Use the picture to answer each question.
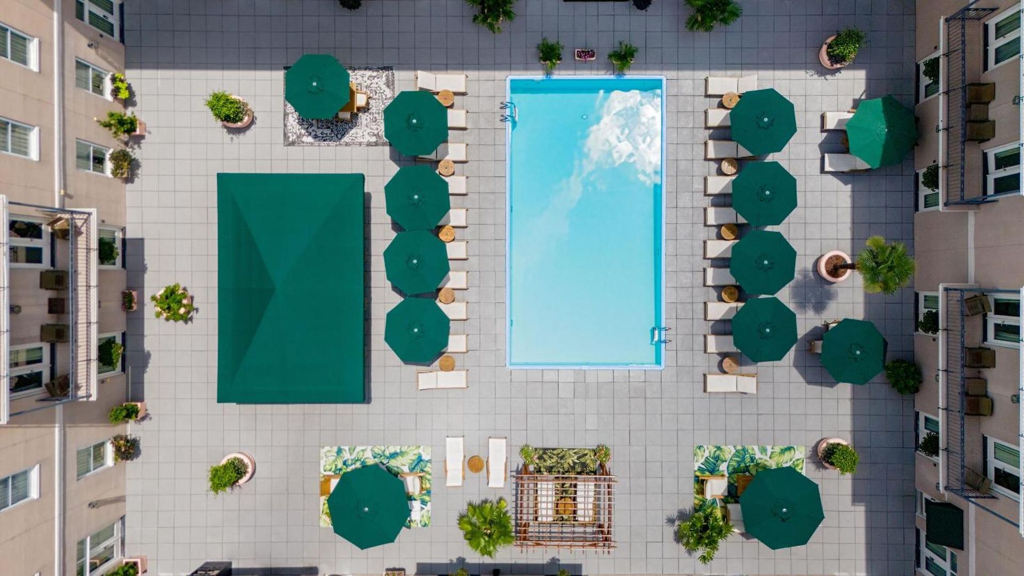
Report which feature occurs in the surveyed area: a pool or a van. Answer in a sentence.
Looking from above, you can make out a pool.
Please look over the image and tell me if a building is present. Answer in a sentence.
Yes, the frame does contain a building.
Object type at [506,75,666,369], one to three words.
swimming pool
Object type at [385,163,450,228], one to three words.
umbrella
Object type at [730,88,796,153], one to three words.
umbrella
